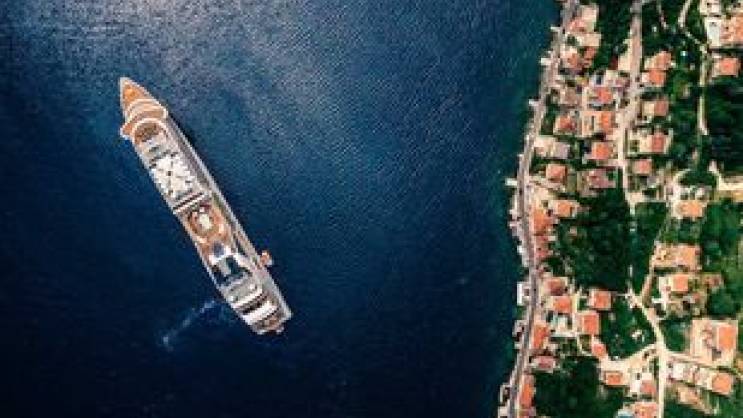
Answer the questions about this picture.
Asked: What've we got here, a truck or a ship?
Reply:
ship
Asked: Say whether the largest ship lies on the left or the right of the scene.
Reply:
left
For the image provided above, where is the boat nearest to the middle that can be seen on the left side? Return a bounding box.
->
[260,249,272,265]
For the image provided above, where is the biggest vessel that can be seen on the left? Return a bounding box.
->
[119,78,295,340]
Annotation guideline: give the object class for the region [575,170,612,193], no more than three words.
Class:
house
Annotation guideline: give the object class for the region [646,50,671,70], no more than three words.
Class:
house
